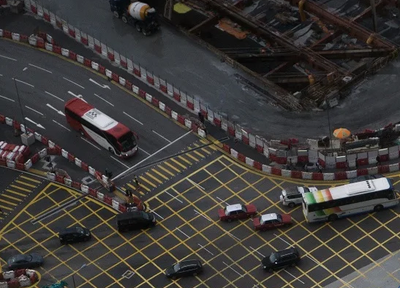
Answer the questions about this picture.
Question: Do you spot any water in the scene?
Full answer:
No, the picture contains no water.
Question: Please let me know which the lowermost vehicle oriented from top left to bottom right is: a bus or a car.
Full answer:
I'd say the lowermost vehicle oriented from top left to bottom right is a bus.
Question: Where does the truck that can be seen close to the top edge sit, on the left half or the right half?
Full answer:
The truck that can be seen close to the top edge sits on the left side.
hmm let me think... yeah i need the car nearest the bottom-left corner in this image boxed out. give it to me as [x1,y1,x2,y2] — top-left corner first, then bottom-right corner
[8,250,43,268]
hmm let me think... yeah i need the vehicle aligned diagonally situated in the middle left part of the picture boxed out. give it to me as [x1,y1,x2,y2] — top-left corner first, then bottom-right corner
[65,100,137,156]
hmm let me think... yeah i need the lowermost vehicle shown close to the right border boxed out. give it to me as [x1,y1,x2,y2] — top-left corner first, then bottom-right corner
[303,177,399,220]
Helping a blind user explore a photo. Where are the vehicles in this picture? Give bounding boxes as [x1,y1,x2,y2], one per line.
[166,258,201,277]
[59,227,90,244]
[303,177,399,220]
[8,250,43,268]
[261,248,298,270]
[282,185,314,205]
[116,207,154,231]
[254,213,291,230]
[65,100,137,156]
[220,203,255,220]
[110,0,161,33]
